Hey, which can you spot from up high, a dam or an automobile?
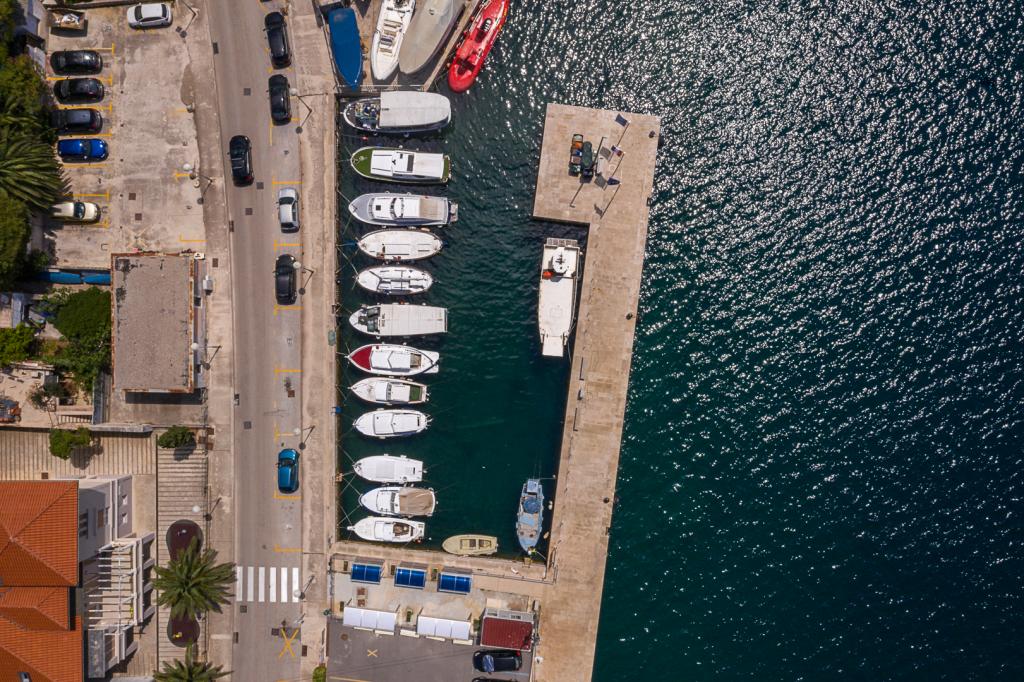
automobile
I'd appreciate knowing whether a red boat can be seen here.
Yes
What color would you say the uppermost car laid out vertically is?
black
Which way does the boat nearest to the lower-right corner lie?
from top to bottom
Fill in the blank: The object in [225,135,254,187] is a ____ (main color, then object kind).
black car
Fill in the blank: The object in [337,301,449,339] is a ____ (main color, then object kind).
white boat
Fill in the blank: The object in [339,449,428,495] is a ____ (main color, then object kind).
white boat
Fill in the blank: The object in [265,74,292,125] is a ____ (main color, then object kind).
black car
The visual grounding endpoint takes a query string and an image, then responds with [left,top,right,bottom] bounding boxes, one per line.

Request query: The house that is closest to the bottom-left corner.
[0,472,155,682]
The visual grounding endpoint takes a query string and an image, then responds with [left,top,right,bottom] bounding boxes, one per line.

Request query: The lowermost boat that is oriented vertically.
[516,461,548,557]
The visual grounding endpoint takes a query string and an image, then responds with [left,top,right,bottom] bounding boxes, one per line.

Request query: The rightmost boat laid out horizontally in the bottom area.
[442,535,501,555]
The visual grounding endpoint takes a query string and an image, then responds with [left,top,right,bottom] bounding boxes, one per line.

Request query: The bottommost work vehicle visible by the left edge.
[0,398,25,422]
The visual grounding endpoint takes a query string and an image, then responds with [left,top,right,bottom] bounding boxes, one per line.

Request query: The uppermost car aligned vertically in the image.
[263,12,292,70]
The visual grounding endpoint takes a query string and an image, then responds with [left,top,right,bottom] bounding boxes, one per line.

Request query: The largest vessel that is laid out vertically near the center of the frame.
[539,237,581,358]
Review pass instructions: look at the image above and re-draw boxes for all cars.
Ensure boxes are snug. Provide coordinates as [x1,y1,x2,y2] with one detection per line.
[275,449,300,493]
[126,0,174,28]
[265,74,292,125]
[49,199,101,223]
[50,107,104,134]
[274,187,300,233]
[272,255,297,305]
[263,12,292,70]
[54,76,106,102]
[57,136,110,161]
[50,47,104,75]
[472,648,522,677]
[225,135,254,187]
